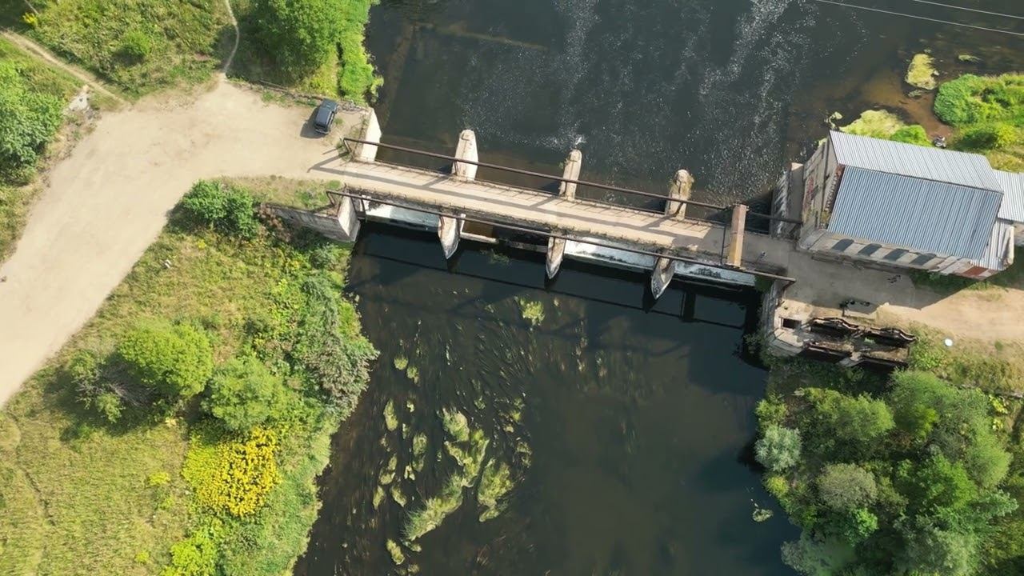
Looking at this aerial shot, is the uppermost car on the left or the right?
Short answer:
left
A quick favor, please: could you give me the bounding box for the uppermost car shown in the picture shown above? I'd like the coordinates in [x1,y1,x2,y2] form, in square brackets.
[313,99,336,132]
